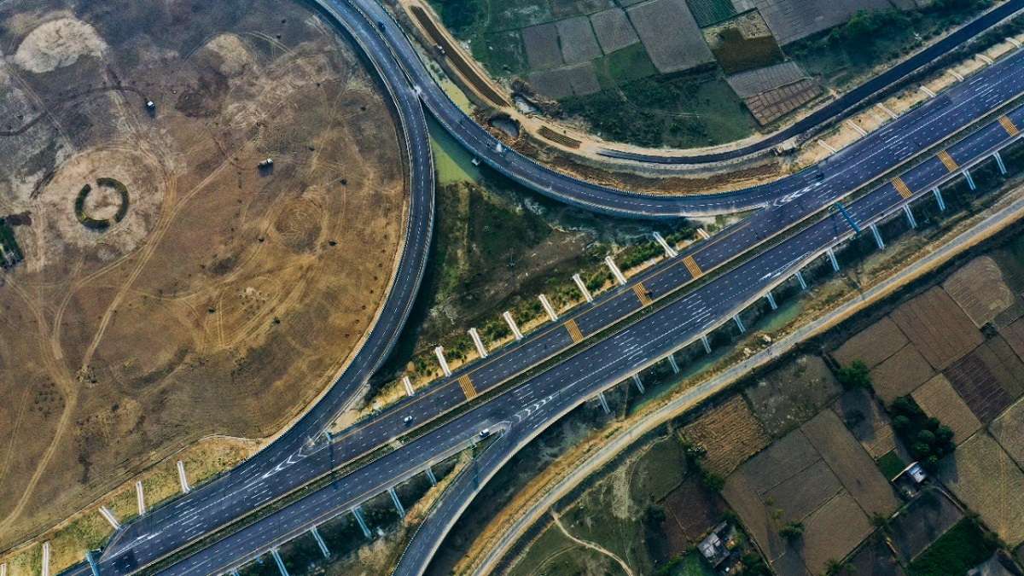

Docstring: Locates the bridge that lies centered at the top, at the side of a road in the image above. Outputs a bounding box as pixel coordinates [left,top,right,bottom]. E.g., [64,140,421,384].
[351,0,854,220]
